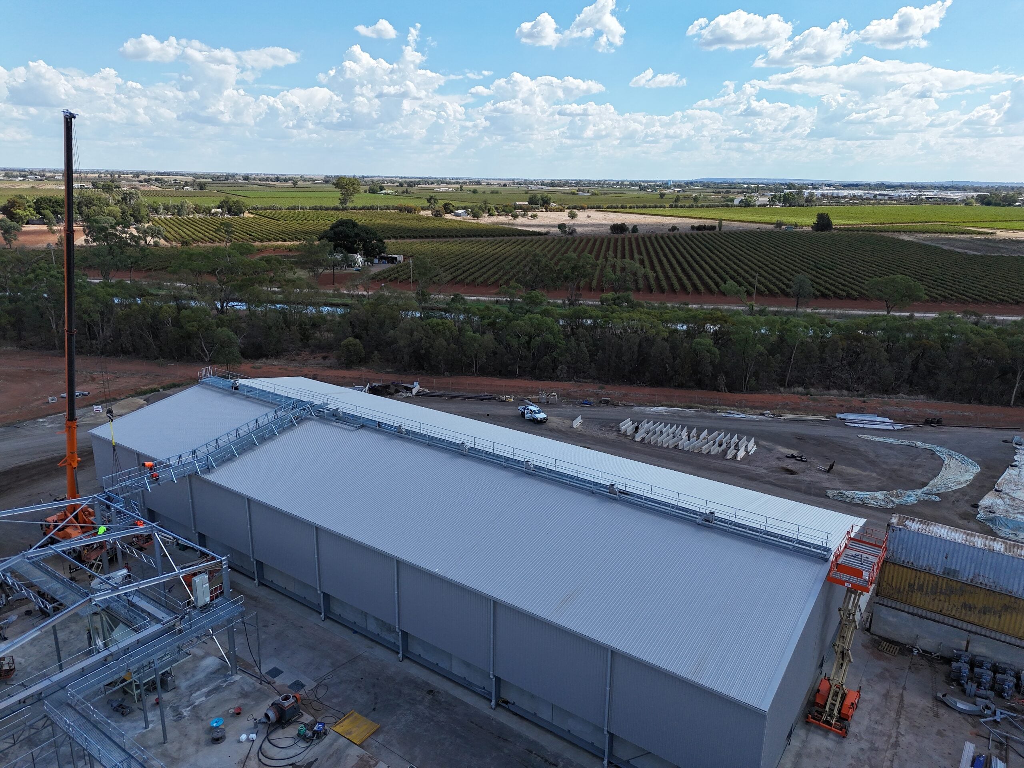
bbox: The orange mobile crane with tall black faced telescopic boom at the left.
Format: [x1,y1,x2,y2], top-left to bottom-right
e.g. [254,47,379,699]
[25,104,132,577]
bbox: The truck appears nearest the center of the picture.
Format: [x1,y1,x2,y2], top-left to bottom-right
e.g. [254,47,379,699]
[518,399,551,424]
